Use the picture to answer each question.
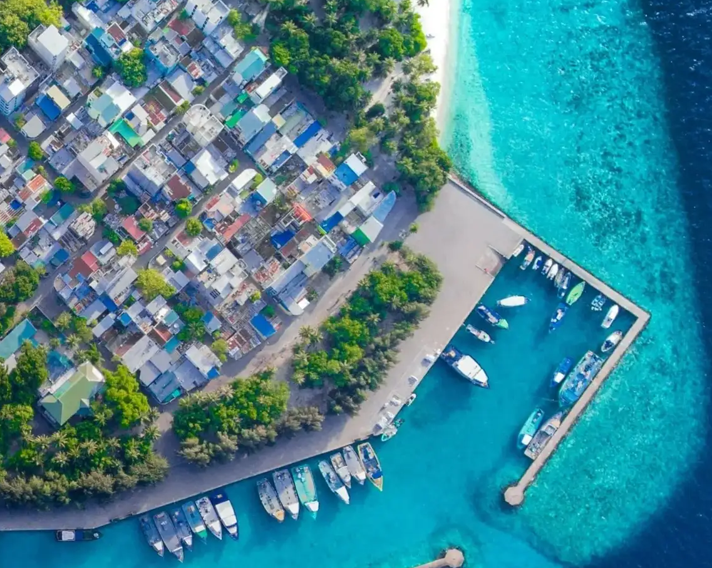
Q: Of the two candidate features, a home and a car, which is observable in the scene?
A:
home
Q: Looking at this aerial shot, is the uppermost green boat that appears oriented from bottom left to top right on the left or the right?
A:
right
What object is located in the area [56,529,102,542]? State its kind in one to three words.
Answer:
boat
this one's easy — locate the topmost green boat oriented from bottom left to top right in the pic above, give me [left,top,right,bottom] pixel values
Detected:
[565,281,588,308]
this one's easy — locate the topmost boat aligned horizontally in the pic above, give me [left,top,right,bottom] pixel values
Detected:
[495,295,532,308]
